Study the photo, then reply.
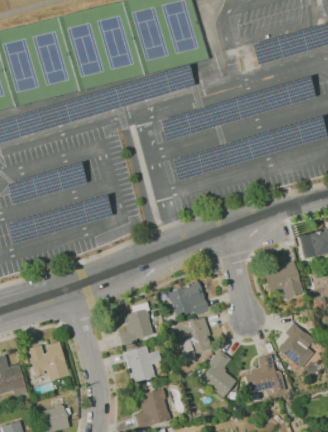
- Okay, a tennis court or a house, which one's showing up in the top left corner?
tennis court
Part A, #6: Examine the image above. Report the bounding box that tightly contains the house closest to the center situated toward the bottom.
[168,282,208,315]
